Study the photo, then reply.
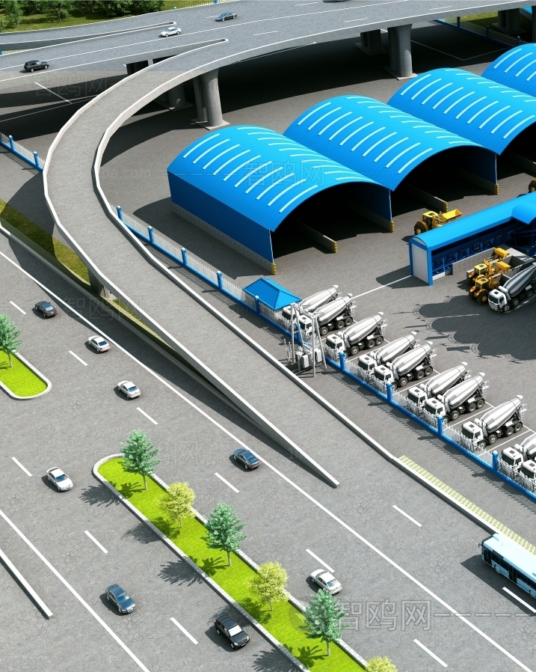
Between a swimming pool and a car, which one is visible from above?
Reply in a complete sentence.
The image shows a car.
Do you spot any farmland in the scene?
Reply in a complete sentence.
No, farmland can't be seen anywhere here.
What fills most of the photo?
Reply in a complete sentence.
The bulk of the photo consists of paved ground.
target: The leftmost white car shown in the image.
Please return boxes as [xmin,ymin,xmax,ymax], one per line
[47,466,74,491]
